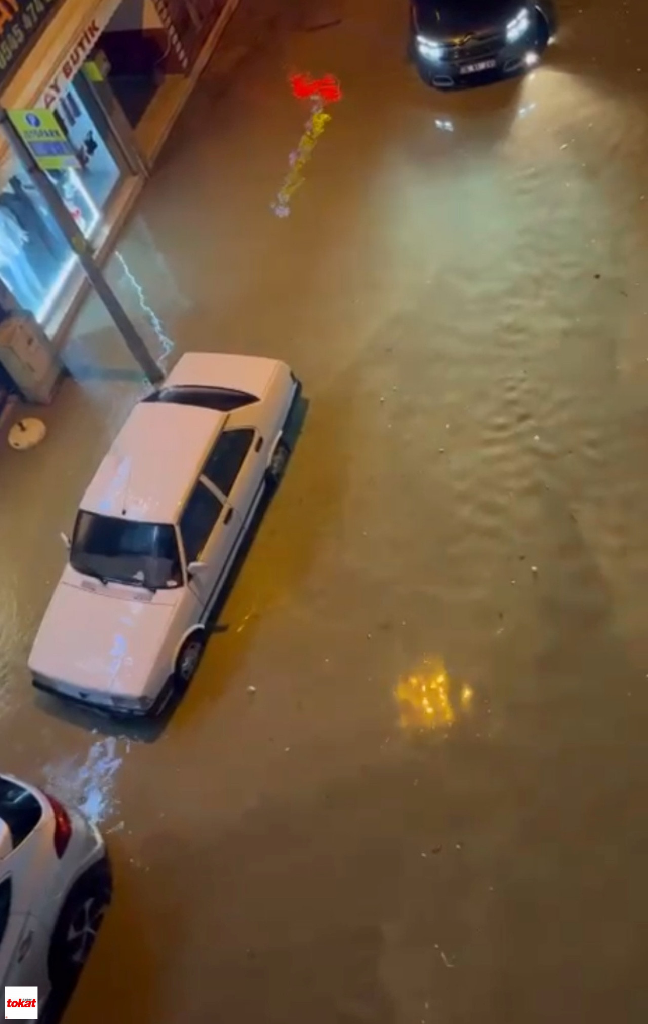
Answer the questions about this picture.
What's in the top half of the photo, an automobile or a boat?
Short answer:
automobile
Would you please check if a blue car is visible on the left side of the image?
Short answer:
No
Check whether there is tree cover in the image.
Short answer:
No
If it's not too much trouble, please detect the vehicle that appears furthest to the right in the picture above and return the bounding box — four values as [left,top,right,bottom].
[390,0,538,87]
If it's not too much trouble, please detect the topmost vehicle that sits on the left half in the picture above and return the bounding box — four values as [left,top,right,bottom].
[24,357,308,723]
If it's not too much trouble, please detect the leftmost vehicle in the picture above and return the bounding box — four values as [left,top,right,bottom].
[0,767,112,1024]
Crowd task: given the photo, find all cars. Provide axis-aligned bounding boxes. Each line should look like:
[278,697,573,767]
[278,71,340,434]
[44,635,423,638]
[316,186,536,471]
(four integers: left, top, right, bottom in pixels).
[390,0,538,87]
[24,357,308,723]
[0,767,112,1024]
